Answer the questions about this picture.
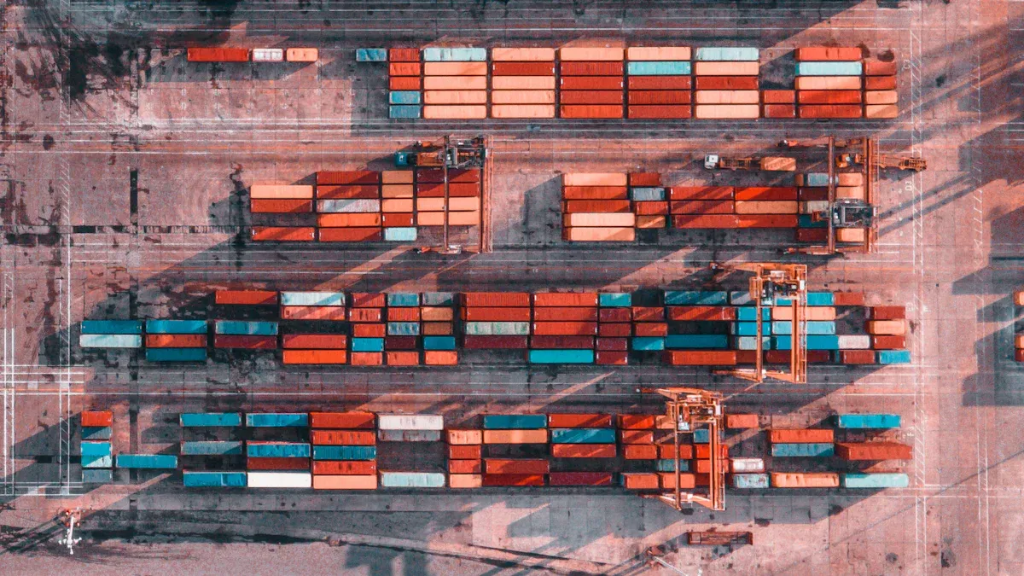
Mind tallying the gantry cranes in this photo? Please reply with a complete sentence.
I count 4 gantry cranes.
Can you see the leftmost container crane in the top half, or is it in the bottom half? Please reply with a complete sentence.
Seen from above, the leftmost container crane lies in the top half of the view.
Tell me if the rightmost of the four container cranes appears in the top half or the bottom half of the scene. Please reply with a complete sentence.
It is in the top half that the rightmost of the four container cranes appears.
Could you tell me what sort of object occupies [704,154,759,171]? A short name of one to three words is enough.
vehicle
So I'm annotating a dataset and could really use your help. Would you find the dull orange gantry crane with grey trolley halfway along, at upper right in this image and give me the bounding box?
[782,135,879,254]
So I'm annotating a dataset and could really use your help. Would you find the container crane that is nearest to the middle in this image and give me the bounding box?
[412,135,494,254]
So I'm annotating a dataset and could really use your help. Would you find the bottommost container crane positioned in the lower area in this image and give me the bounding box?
[634,383,725,511]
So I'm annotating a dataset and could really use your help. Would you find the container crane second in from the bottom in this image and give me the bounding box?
[713,261,806,383]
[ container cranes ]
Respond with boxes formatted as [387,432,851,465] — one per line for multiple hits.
[634,383,725,511]
[782,135,879,254]
[713,261,806,383]
[412,135,494,254]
